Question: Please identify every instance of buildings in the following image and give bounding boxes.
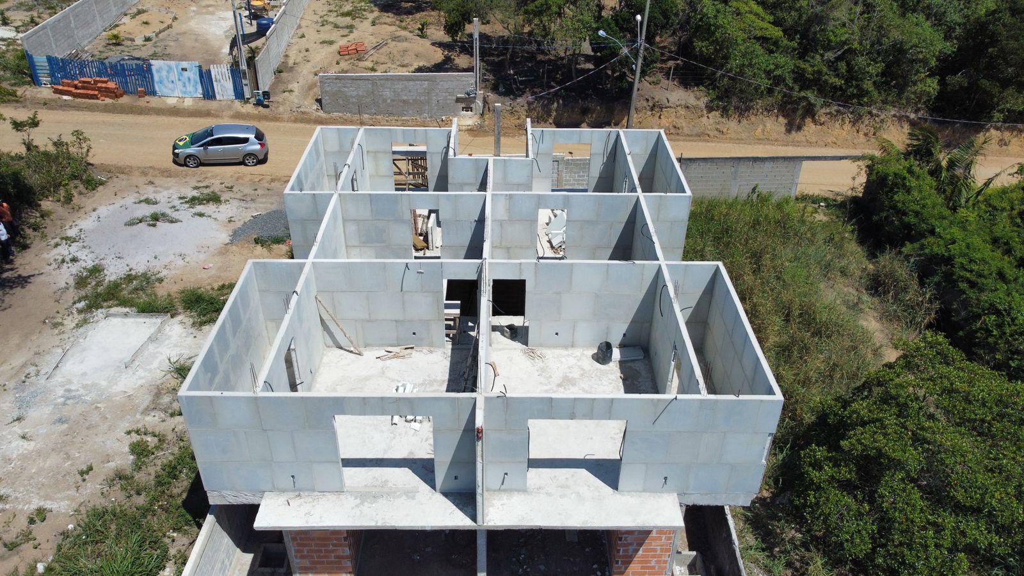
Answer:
[178,109,783,576]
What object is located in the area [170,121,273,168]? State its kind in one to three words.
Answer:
car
